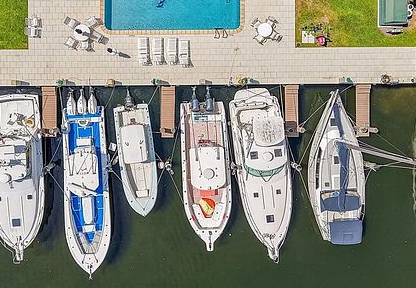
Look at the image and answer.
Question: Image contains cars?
No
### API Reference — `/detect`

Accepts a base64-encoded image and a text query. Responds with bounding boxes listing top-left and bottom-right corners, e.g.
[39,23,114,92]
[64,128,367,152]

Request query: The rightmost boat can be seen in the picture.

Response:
[309,91,416,245]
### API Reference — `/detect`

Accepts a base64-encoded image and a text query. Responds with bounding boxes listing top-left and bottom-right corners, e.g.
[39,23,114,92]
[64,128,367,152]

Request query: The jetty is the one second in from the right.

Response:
[283,86,299,137]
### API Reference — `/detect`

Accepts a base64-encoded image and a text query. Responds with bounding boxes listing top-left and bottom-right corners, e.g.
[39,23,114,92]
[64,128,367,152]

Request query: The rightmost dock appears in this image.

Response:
[352,86,371,137]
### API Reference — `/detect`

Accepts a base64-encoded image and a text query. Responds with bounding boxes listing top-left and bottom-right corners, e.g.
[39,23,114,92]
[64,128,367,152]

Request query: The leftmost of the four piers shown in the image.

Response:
[42,86,58,137]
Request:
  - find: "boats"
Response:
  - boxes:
[179,84,232,255]
[0,94,47,267]
[230,87,297,267]
[113,88,157,217]
[309,91,416,245]
[61,88,112,282]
